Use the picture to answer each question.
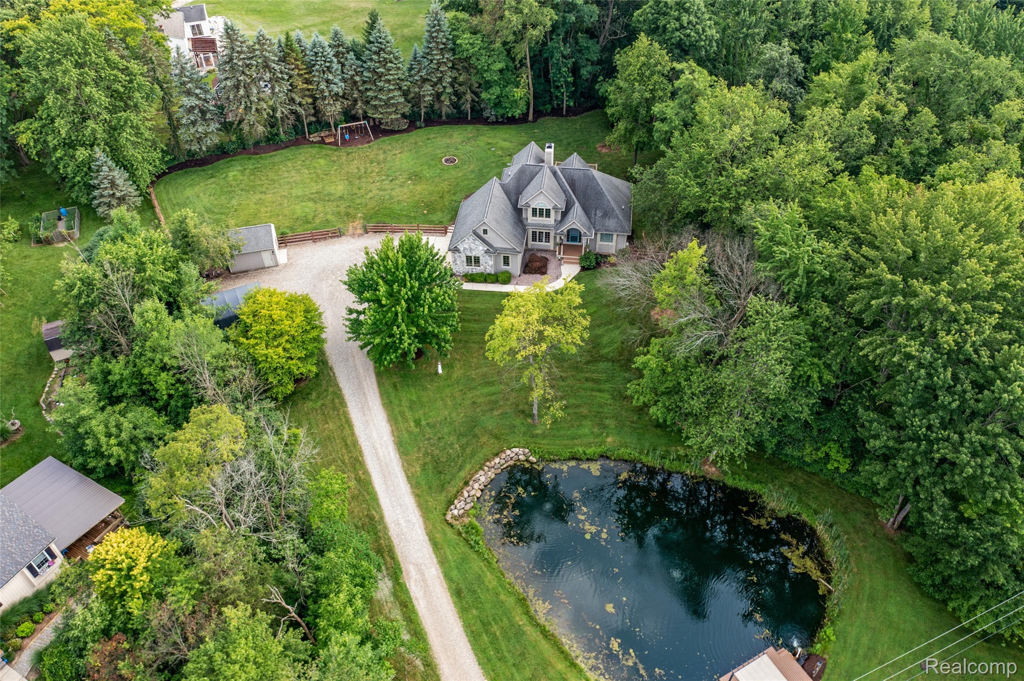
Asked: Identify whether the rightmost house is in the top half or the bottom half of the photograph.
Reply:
top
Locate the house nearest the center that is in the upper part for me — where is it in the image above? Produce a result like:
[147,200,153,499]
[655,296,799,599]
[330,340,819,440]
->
[447,139,633,275]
